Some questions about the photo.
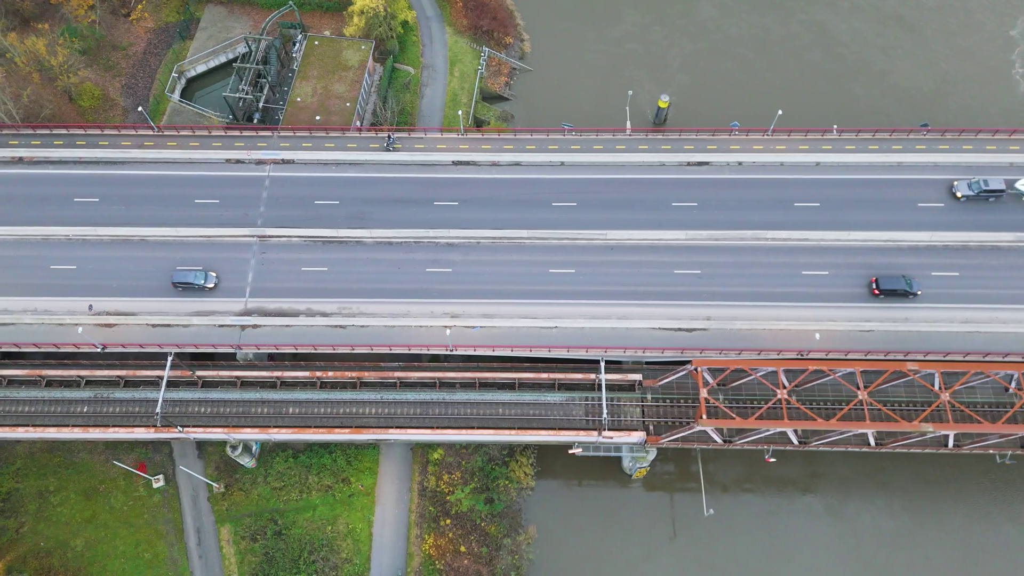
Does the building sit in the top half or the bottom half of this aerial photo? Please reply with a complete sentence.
It is in the top half that the building appears.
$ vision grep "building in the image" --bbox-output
[278,34,380,127]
